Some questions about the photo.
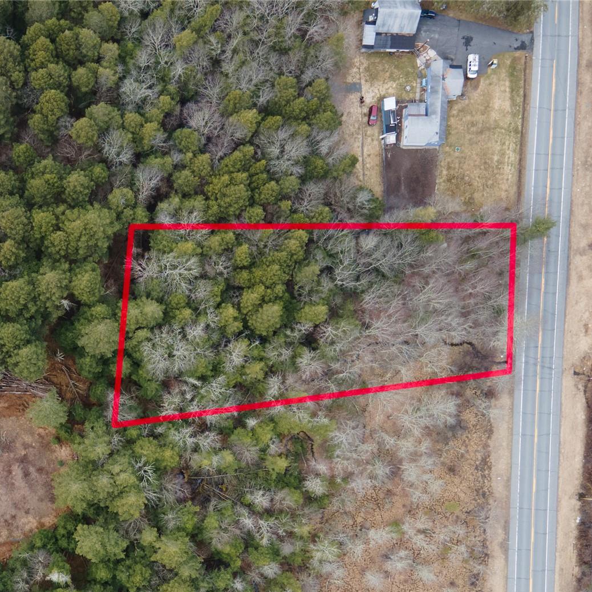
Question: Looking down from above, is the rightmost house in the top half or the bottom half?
top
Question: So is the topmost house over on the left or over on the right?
right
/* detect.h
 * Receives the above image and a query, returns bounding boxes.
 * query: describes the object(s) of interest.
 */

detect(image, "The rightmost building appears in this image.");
[398,60,464,148]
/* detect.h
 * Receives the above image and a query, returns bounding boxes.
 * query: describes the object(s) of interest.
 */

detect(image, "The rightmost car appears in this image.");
[465,54,478,79]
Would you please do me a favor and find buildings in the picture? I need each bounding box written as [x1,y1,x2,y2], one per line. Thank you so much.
[398,60,464,148]
[376,96,396,138]
[360,0,422,52]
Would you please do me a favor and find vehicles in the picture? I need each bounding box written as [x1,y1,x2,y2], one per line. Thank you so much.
[465,54,478,79]
[420,8,438,22]
[366,106,376,127]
